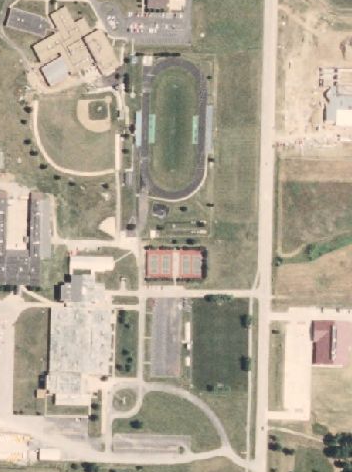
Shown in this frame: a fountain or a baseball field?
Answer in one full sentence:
The image shows a baseball field.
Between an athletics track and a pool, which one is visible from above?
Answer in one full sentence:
The one in the frame is an athletics track.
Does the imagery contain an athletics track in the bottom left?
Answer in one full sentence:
No, no athletics track appears in the bottom left.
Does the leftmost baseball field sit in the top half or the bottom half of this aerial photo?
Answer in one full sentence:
You can find the leftmost baseball field in the top half.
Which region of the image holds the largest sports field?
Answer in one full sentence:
The largest sports field sits in the top section of the image.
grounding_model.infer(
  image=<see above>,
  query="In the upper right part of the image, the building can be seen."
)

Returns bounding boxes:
[319,68,352,127]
